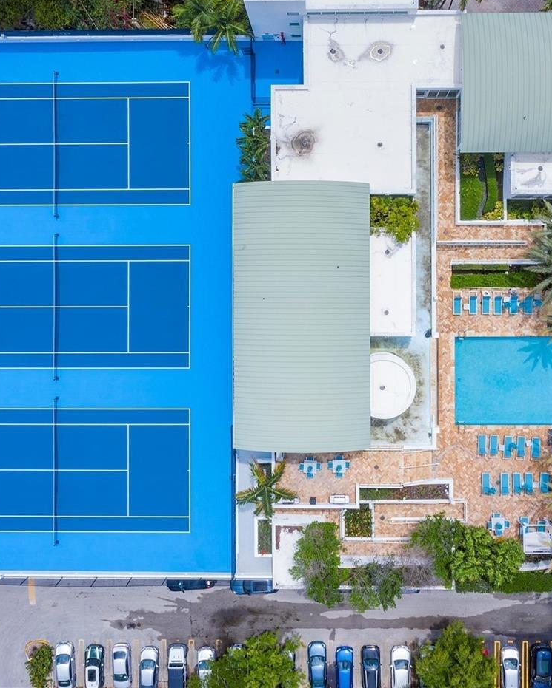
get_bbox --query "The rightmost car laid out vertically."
[530,643,552,688]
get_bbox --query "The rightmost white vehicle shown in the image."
[500,645,523,688]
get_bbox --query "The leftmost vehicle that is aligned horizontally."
[168,579,218,594]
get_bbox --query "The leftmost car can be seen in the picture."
[51,642,75,688]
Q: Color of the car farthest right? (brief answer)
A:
blue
